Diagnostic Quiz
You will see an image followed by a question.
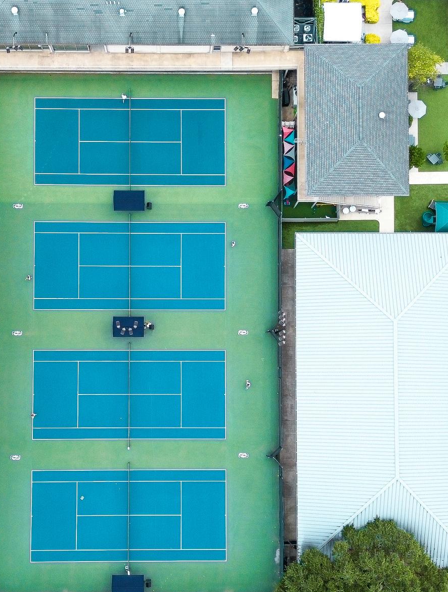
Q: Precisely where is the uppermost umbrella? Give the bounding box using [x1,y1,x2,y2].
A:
[390,2,408,21]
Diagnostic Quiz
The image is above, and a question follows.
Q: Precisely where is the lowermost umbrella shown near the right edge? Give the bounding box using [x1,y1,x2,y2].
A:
[409,101,427,118]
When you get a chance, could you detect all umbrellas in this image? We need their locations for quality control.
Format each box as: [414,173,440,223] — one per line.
[390,30,408,43]
[390,2,408,21]
[409,101,427,118]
